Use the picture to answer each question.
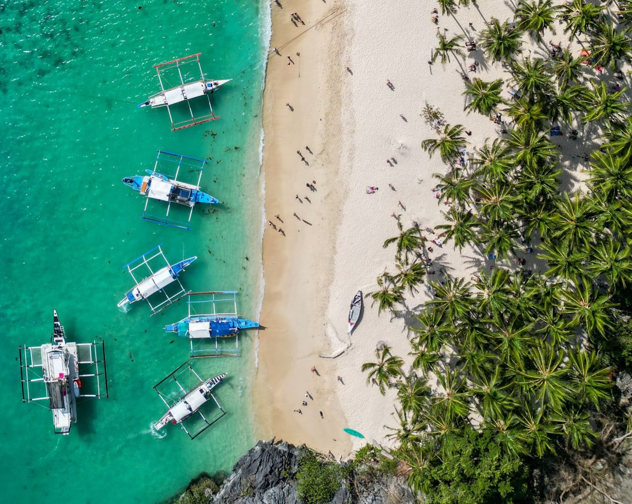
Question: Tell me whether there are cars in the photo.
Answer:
No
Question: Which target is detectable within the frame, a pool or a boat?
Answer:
boat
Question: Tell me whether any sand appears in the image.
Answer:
Yes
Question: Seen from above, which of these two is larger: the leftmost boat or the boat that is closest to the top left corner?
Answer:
the leftmost boat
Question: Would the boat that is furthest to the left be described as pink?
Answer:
No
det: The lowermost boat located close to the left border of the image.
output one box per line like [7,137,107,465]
[19,306,109,436]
